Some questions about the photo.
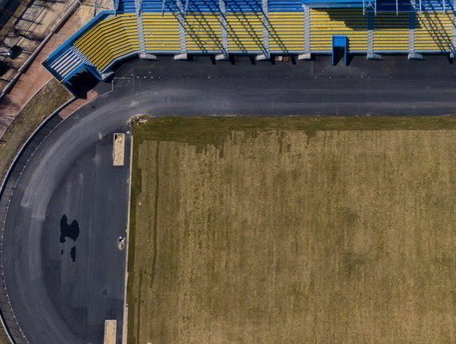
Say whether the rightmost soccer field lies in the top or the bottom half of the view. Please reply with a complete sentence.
Seen from above, the rightmost soccer field lies in the bottom half of the view.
